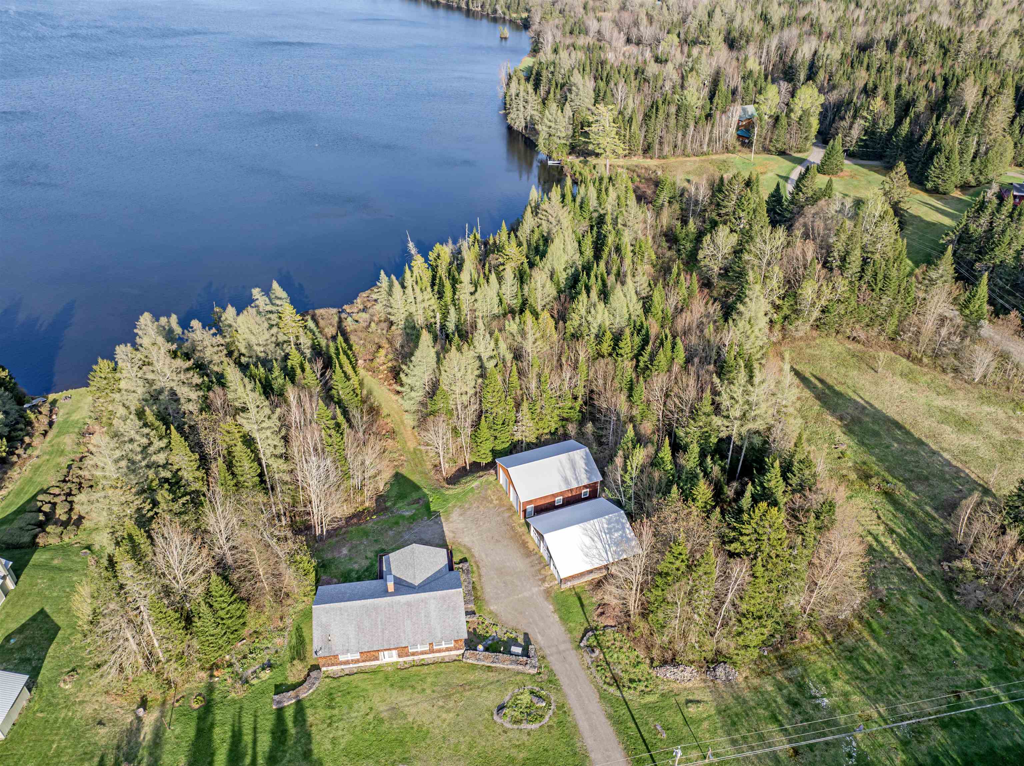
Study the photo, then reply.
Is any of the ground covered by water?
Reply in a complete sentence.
Yes, there's water in this view.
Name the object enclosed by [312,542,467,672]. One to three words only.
house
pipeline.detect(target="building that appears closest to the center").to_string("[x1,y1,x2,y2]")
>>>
[495,440,603,521]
